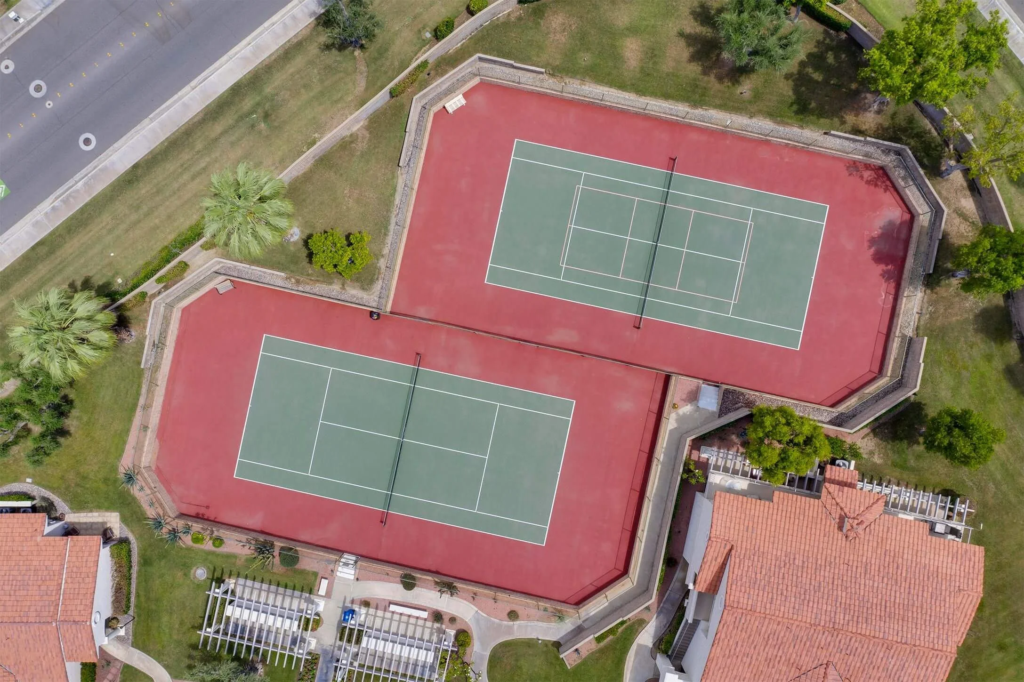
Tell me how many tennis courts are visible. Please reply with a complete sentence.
The count of tennis courts comes to 2.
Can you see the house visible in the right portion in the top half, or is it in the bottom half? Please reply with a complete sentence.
The house visible in the right portion is in the bottom half of the image.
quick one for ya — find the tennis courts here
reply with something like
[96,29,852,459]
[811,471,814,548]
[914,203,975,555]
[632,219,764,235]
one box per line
[390,82,914,407]
[156,280,670,605]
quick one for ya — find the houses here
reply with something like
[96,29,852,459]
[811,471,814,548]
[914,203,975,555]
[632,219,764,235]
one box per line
[0,508,118,682]
[648,460,985,682]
